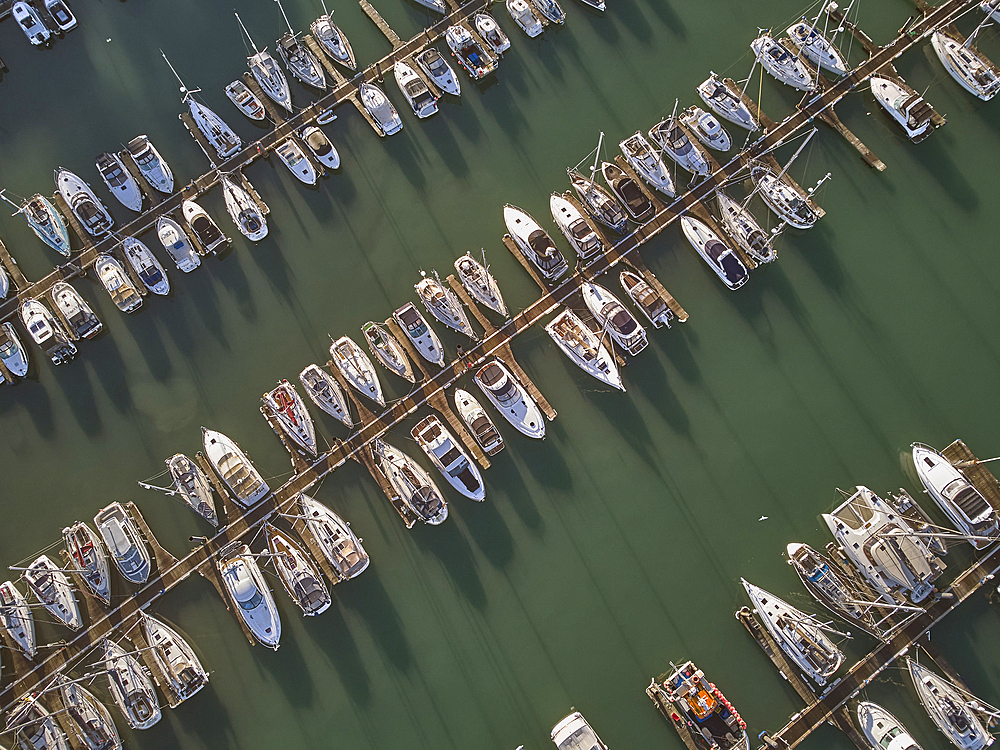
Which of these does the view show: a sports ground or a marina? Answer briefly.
marina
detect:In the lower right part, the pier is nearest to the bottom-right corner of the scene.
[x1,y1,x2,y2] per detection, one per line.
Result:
[909,643,1000,732]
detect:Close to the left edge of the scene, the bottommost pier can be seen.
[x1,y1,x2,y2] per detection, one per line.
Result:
[40,688,84,750]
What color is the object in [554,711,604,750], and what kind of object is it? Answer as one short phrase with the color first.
white boat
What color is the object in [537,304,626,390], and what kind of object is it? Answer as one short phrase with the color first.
white boat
